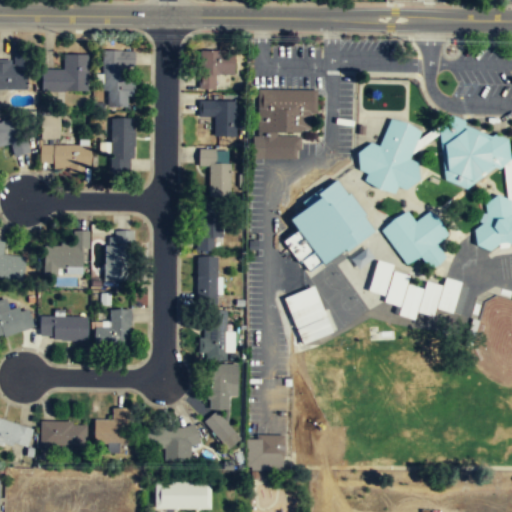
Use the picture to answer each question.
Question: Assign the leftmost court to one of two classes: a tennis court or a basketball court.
basketball court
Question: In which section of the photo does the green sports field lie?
bottom right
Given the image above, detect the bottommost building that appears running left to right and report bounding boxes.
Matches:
[156,483,212,510]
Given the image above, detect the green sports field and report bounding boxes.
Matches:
[295,317,512,466]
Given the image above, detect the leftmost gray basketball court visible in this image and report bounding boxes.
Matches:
[318,266,368,328]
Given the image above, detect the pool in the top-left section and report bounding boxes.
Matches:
[10,94,34,106]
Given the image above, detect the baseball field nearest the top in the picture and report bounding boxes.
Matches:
[473,294,512,388]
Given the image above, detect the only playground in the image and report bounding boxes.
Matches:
[361,82,408,112]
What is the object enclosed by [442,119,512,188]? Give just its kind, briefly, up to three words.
building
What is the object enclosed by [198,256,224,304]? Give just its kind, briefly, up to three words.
house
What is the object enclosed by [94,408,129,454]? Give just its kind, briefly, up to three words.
house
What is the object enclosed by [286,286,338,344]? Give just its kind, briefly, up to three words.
building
